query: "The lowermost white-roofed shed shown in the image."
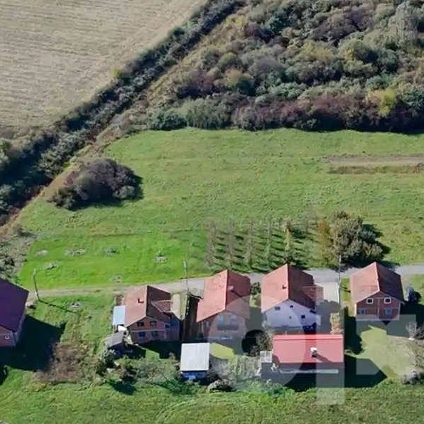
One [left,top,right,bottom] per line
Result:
[179,345,211,377]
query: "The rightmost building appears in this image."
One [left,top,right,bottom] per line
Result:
[352,262,404,322]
